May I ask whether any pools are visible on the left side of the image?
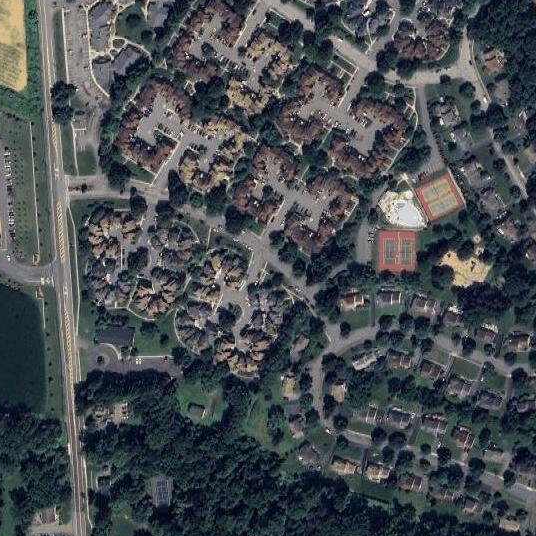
No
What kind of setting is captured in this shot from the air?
residential area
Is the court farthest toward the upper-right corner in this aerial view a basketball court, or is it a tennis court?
tennis court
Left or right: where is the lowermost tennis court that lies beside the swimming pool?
right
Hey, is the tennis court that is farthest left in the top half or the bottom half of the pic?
bottom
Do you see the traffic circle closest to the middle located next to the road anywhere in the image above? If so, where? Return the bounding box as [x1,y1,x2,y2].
[213,294,249,335]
